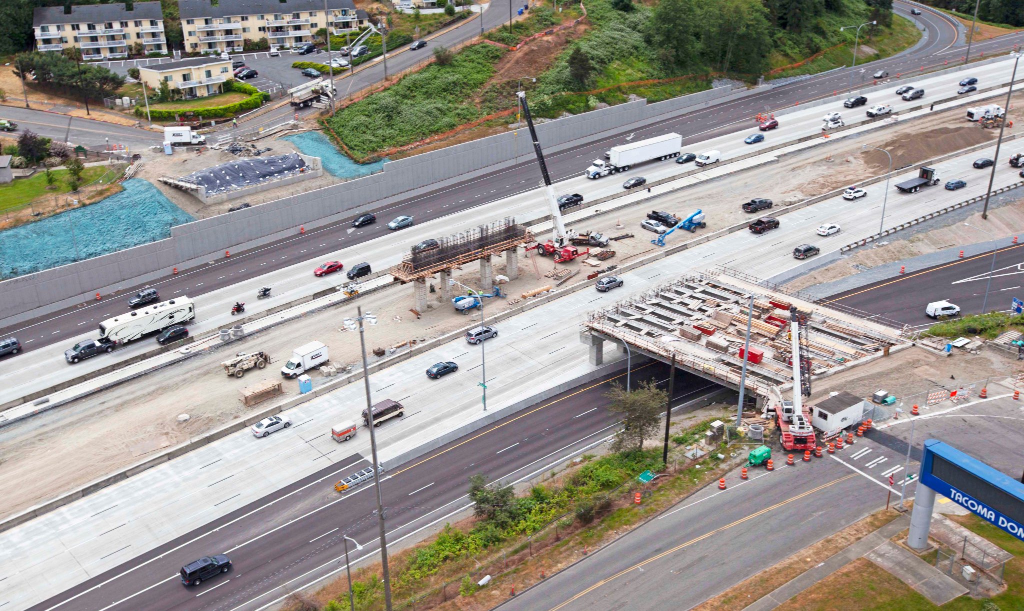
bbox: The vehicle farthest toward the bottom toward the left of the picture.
[177,553,233,590]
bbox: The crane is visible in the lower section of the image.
[757,305,821,454]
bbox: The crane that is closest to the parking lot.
[518,90,587,270]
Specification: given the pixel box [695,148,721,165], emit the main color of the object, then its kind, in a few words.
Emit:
white vehicle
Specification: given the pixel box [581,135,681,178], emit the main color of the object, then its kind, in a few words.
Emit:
white truck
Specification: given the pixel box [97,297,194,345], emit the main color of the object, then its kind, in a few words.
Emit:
white trailer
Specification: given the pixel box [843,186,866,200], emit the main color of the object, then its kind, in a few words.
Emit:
white car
